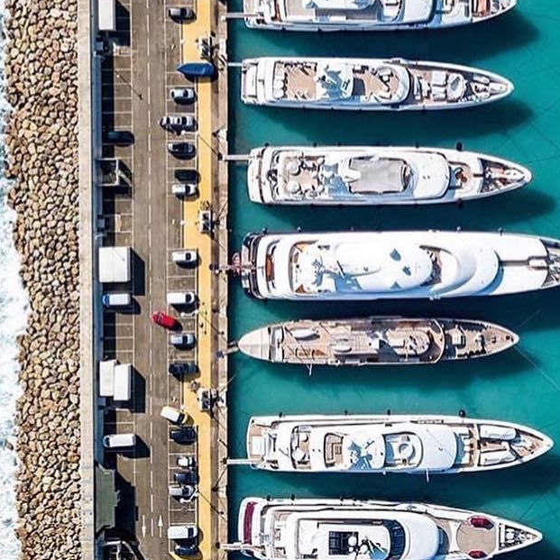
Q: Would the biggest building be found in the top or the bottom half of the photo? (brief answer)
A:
bottom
